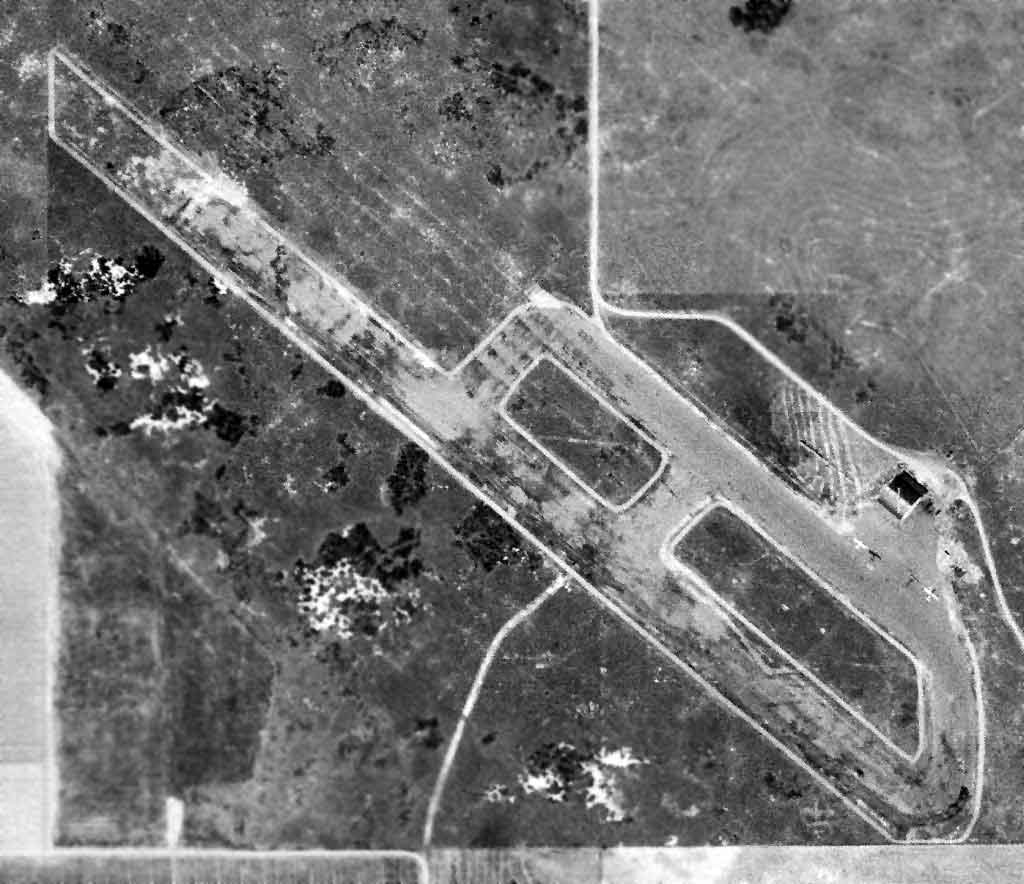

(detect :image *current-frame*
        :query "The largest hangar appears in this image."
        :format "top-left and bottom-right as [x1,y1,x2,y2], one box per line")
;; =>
[878,471,925,522]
